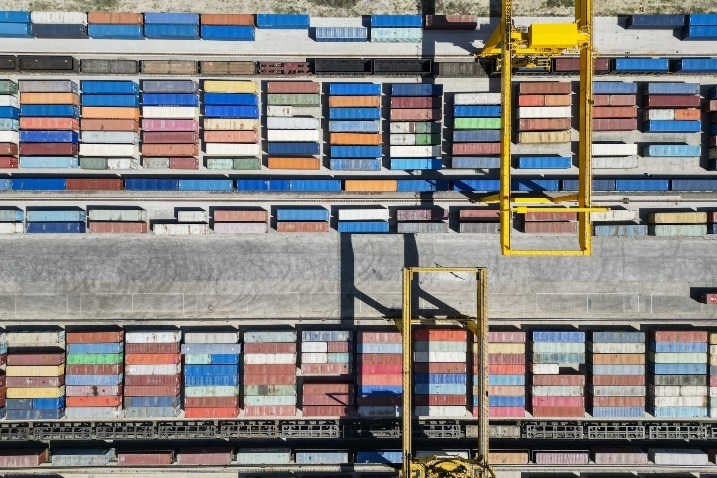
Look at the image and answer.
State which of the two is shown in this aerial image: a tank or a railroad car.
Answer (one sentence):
Of the two, only a railroad car appears.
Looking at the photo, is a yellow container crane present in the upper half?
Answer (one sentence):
Yes, a yellow container crane can be seen in the upper half.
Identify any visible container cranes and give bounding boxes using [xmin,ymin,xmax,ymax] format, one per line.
[469,0,611,255]
[383,267,492,478]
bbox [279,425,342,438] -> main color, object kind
gray rail car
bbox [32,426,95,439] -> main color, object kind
gray rail car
